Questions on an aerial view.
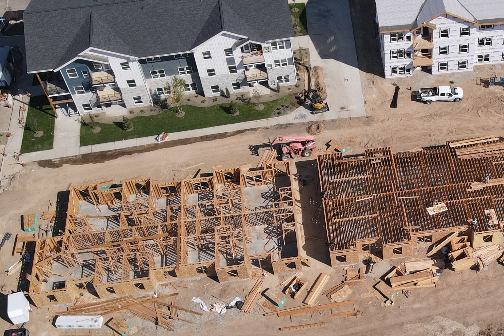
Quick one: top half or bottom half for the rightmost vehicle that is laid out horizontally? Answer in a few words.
top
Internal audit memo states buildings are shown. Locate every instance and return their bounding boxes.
[372,0,504,79]
[27,160,303,308]
[316,137,504,267]
[20,0,298,120]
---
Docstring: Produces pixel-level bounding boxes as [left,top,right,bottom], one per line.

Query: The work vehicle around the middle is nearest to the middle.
[258,135,316,161]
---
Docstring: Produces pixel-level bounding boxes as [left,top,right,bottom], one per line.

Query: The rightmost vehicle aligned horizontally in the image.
[417,83,463,103]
